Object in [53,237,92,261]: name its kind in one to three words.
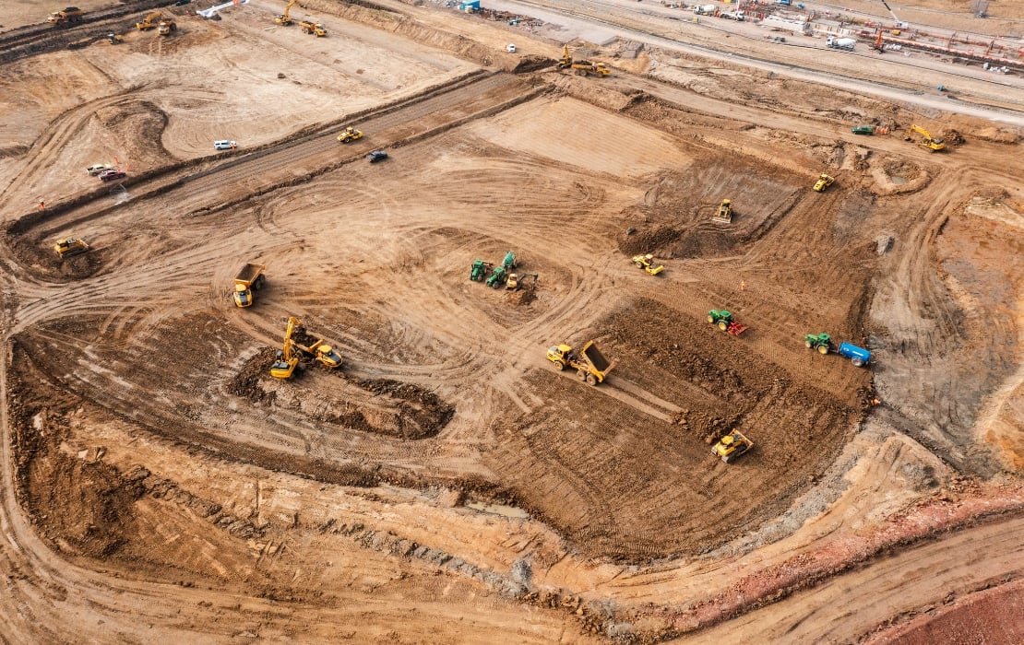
work vehicle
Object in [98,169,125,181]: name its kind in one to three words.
vehicle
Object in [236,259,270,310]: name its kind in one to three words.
truck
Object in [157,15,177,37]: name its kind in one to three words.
vehicle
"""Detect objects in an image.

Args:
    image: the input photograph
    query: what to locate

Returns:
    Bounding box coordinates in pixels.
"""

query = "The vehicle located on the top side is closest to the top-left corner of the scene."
[45,6,85,25]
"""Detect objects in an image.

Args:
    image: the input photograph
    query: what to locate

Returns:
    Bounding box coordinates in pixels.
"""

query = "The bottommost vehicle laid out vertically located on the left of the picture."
[271,312,300,380]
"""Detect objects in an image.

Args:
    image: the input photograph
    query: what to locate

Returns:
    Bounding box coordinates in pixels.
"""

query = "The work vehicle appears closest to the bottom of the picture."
[710,429,758,466]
